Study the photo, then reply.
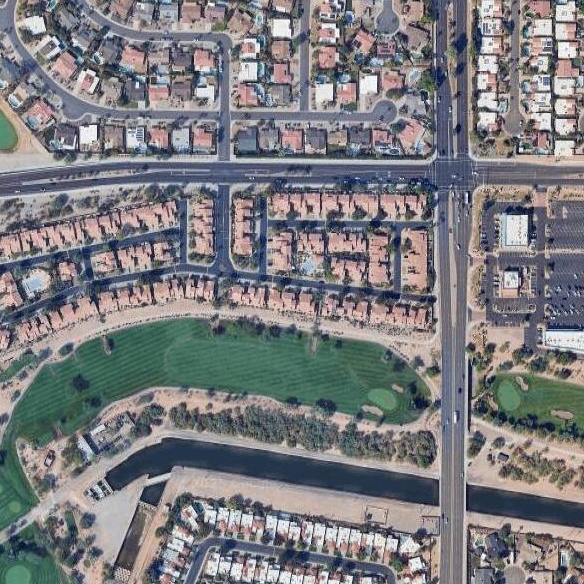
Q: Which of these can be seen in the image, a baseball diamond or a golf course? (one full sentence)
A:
Looking from above, you can make out a golf course.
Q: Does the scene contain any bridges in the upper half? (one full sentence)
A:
No, I can find no bridge in the upper half.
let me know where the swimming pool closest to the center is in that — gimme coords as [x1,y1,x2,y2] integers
[299,259,314,274]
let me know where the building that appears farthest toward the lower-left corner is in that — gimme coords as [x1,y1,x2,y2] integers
[84,478,113,506]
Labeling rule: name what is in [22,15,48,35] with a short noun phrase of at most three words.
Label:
house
